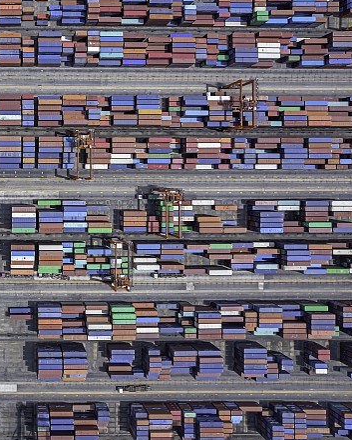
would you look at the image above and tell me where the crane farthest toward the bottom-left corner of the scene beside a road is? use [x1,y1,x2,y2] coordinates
[102,236,132,292]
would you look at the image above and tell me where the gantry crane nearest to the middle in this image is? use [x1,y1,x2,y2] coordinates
[149,187,183,239]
